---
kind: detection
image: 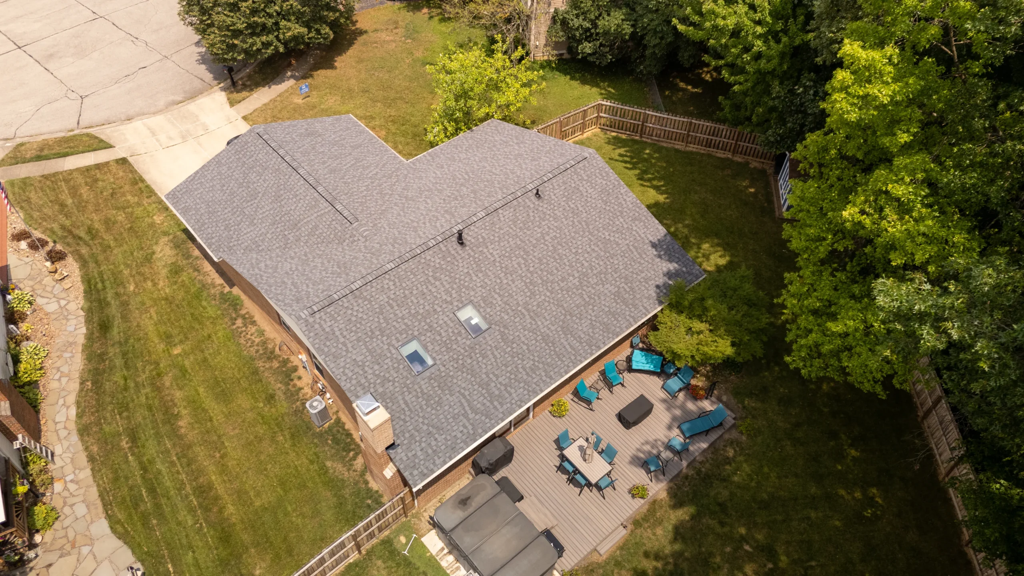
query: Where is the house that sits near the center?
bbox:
[163,112,705,515]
